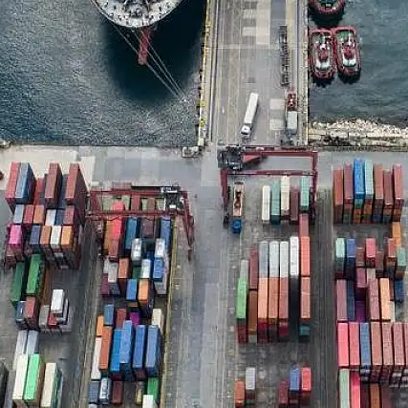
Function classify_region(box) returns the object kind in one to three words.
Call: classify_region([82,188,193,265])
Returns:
container crane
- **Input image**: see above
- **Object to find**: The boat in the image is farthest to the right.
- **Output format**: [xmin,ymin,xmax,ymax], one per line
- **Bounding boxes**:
[334,25,363,84]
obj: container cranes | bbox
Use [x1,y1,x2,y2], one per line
[216,149,320,228]
[82,188,193,265]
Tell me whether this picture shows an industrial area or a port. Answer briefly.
port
